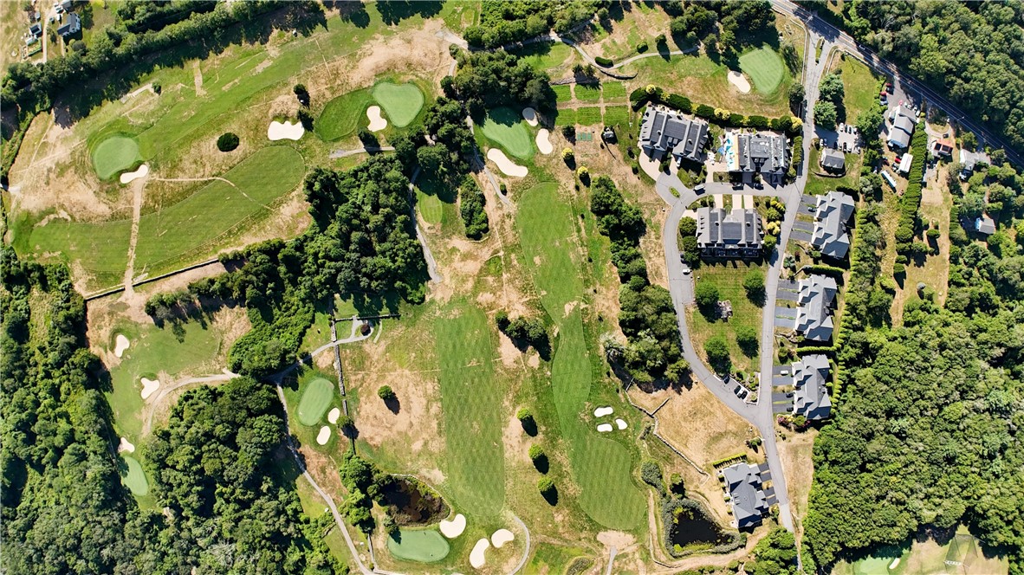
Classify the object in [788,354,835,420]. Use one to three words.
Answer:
house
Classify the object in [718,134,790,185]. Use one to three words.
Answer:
house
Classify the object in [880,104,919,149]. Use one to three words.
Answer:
building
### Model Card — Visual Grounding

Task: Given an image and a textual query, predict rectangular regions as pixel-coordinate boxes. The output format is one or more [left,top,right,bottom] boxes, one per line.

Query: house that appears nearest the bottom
[719,458,768,528]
